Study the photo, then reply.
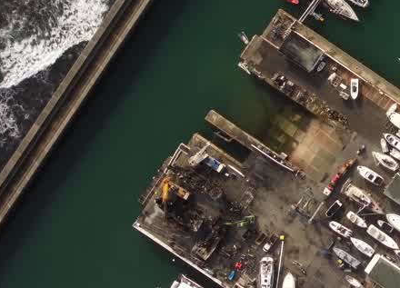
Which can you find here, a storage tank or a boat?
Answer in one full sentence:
This aerial view contains a boat.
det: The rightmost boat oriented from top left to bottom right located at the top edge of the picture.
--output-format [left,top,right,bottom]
[324,0,358,20]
